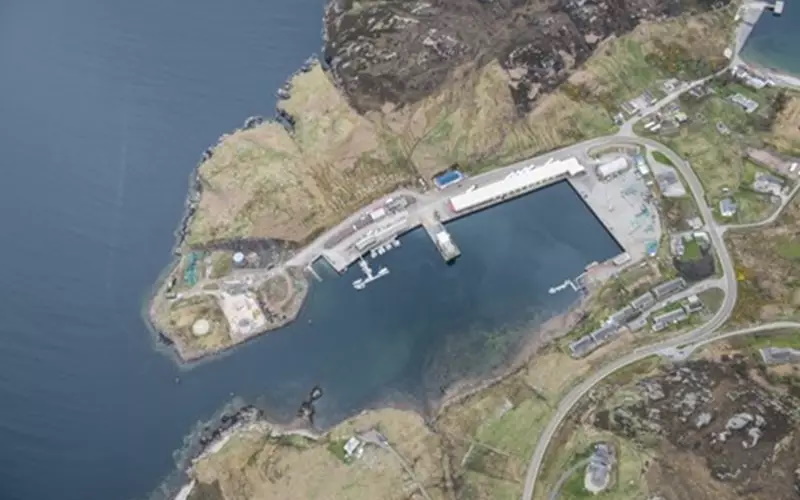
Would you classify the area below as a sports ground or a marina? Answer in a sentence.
The picture captures a marina.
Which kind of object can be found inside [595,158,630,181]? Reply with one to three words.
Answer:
shed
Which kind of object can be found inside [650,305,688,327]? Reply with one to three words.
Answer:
house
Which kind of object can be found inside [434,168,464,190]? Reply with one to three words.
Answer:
building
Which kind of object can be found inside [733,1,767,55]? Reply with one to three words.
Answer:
pier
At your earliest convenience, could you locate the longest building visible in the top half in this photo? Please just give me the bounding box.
[449,162,566,216]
